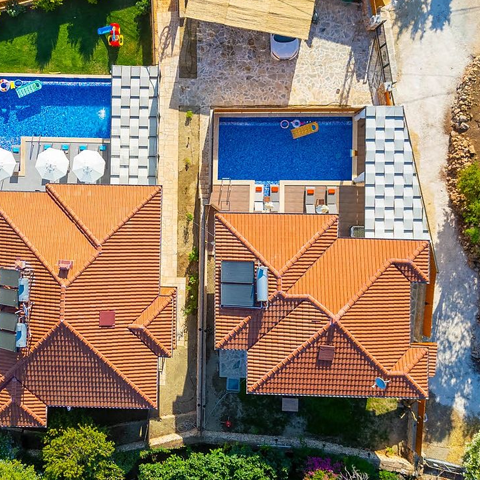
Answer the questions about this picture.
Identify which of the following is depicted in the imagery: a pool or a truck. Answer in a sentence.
Looking from above, you can make out a pool.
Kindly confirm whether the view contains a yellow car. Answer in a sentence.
No, the frame has no yellow car in it.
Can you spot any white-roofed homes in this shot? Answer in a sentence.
No, this view has no white-roofed home in it.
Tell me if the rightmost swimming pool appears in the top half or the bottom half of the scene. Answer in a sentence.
The rightmost swimming pool sits in the top half of the picture.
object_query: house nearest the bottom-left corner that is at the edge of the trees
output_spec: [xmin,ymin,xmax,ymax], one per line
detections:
[0,182,177,429]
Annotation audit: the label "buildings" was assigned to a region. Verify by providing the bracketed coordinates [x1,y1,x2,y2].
[213,213,439,400]
[0,182,177,429]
